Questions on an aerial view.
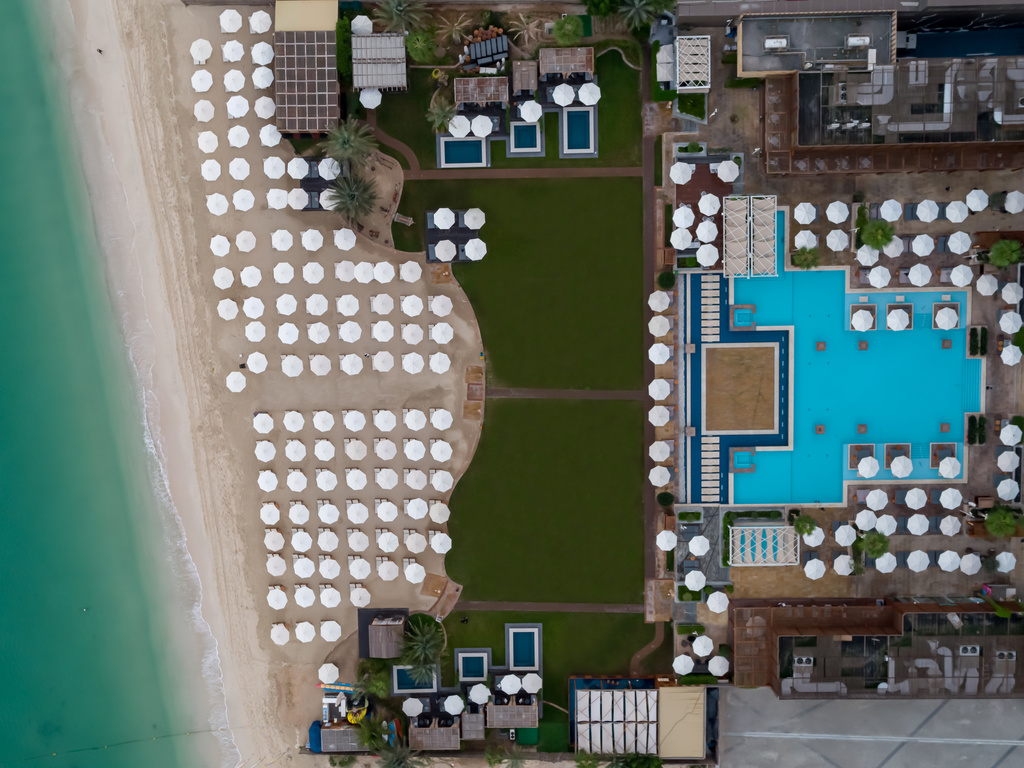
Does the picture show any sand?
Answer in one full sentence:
Yes, the picture does contain sand.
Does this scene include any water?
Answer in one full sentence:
Yes, the picture does contain water.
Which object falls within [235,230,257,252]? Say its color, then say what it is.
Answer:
white umbrella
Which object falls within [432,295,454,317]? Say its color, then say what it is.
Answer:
white umbrella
